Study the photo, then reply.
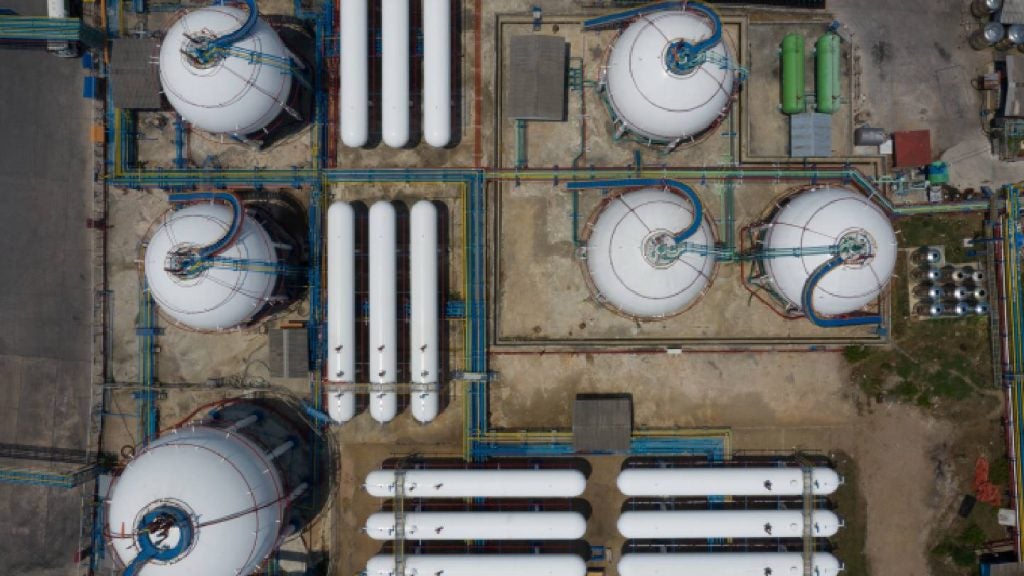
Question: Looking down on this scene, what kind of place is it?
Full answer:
The area seen from above is an industrial area.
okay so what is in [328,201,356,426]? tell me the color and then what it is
white storage tank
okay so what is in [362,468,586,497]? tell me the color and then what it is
white storage tank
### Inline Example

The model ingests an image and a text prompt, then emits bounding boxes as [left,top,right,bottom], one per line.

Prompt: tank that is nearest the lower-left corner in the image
[106,410,309,576]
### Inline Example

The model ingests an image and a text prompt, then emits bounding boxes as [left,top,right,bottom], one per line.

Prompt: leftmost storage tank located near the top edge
[155,0,317,149]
